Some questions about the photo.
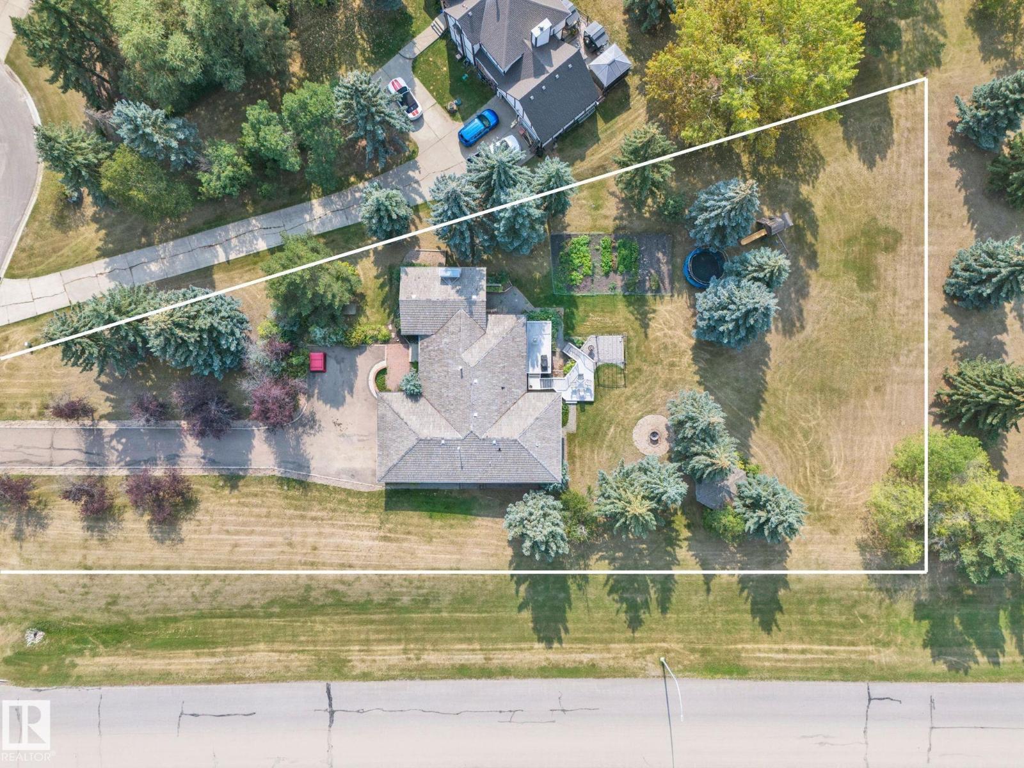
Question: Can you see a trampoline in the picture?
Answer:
Yes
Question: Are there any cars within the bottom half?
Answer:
No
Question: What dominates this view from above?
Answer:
grass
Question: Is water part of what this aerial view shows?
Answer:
No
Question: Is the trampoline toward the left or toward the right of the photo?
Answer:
right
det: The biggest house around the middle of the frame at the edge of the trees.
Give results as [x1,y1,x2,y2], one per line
[376,265,563,483]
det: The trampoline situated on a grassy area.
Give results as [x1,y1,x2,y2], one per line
[683,245,728,288]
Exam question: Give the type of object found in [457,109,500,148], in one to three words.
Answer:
car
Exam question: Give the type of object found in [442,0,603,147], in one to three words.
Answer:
house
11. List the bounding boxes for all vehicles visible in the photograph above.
[387,77,425,123]
[494,136,520,158]
[457,109,500,148]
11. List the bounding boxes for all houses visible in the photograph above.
[376,265,563,483]
[442,0,603,147]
